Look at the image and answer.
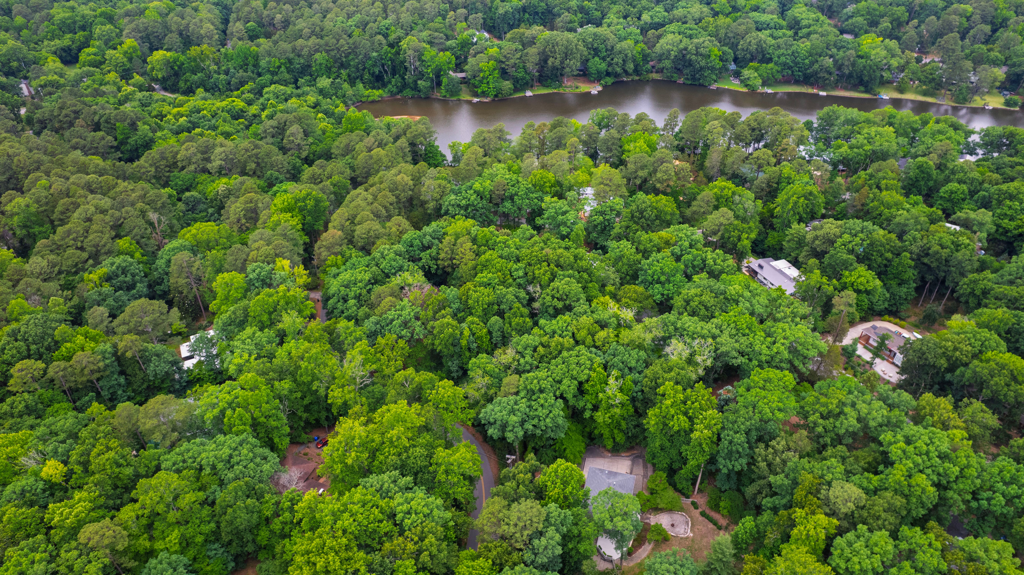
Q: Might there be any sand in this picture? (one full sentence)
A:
No, the picture contains no sand.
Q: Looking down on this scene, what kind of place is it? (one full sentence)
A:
The area seen from above is a forest.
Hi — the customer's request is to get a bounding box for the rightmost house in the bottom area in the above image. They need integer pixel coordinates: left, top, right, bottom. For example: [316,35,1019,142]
[854,325,909,371]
